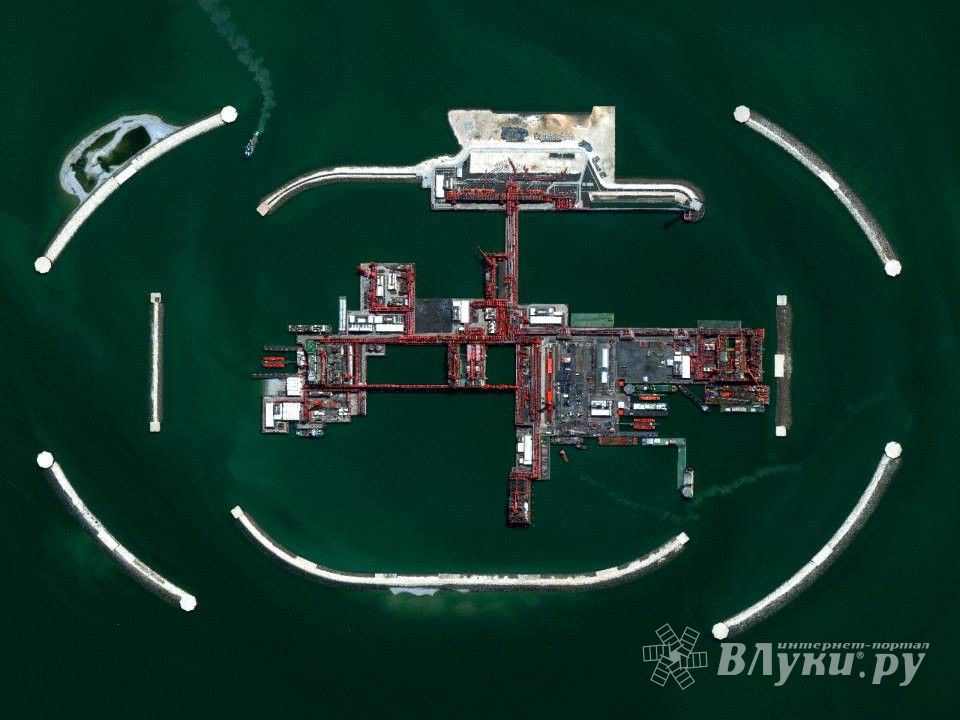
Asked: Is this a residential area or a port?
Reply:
port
